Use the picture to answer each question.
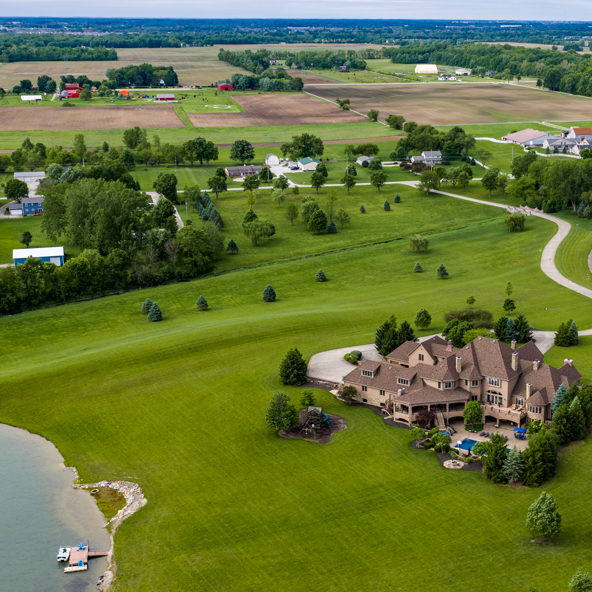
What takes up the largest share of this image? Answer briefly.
grass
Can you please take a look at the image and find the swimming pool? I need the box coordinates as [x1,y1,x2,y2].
[453,437,478,452]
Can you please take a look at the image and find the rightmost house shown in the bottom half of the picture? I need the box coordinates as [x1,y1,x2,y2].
[343,336,583,433]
